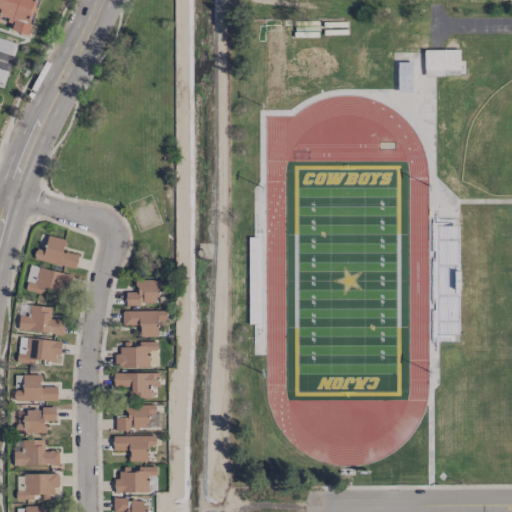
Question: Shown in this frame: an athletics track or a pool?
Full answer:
Looking from above, you can make out an athletics track.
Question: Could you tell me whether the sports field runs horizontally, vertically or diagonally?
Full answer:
From this overhead view, the sports field appears to run vertically.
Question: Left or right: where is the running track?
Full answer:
You can find the running track on the right side of the picture.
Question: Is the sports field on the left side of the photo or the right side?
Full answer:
The sports field is on the right side of the image.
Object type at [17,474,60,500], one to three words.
house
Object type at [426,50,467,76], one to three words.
building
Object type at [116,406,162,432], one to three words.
house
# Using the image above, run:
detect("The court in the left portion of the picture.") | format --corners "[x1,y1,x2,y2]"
[130,195,164,232]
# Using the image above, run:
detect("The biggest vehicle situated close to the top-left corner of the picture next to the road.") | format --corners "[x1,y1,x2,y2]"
[30,61,52,98]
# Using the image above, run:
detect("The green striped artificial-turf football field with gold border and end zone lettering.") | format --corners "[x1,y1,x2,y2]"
[286,162,410,400]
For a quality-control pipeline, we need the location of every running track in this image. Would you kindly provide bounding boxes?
[266,98,430,466]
